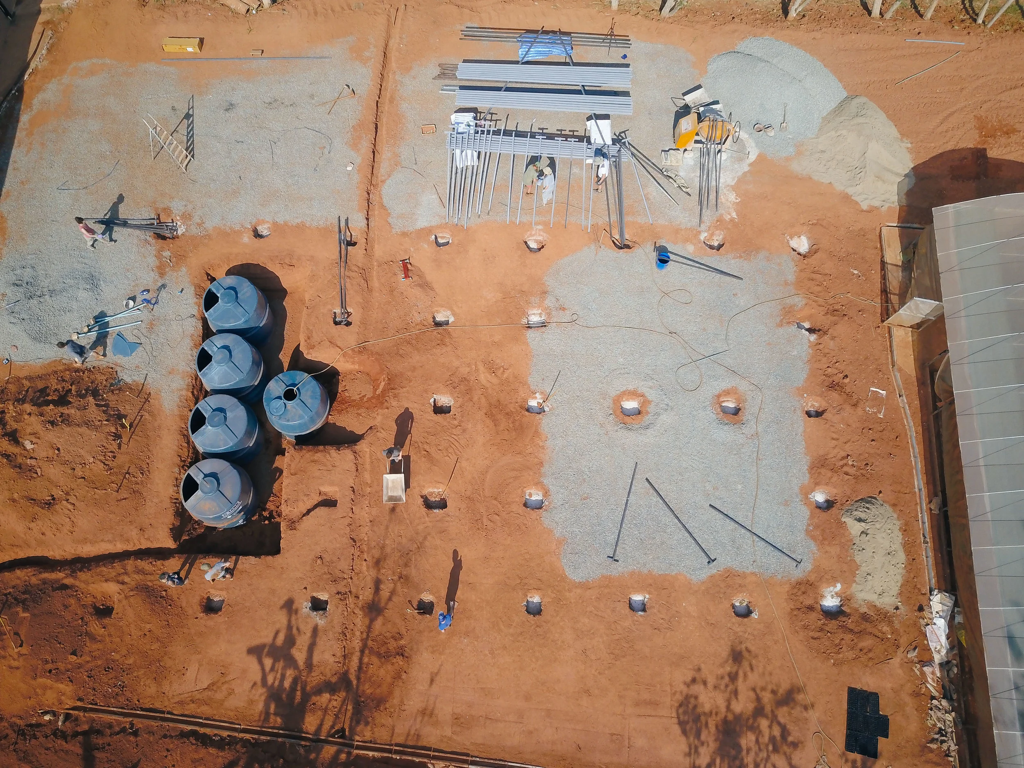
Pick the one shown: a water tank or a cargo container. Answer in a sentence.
Visible in the photo is a water tank.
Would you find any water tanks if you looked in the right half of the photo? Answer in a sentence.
No, there's no water tank to be seen in the right half of the photo.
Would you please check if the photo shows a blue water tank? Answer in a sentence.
Yes, a blue water tank appears in the view.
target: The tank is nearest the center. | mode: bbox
[263,373,330,443]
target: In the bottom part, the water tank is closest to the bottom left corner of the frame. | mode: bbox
[180,460,256,529]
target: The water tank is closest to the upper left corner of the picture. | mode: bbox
[202,276,271,345]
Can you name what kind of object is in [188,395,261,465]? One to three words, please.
water tank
